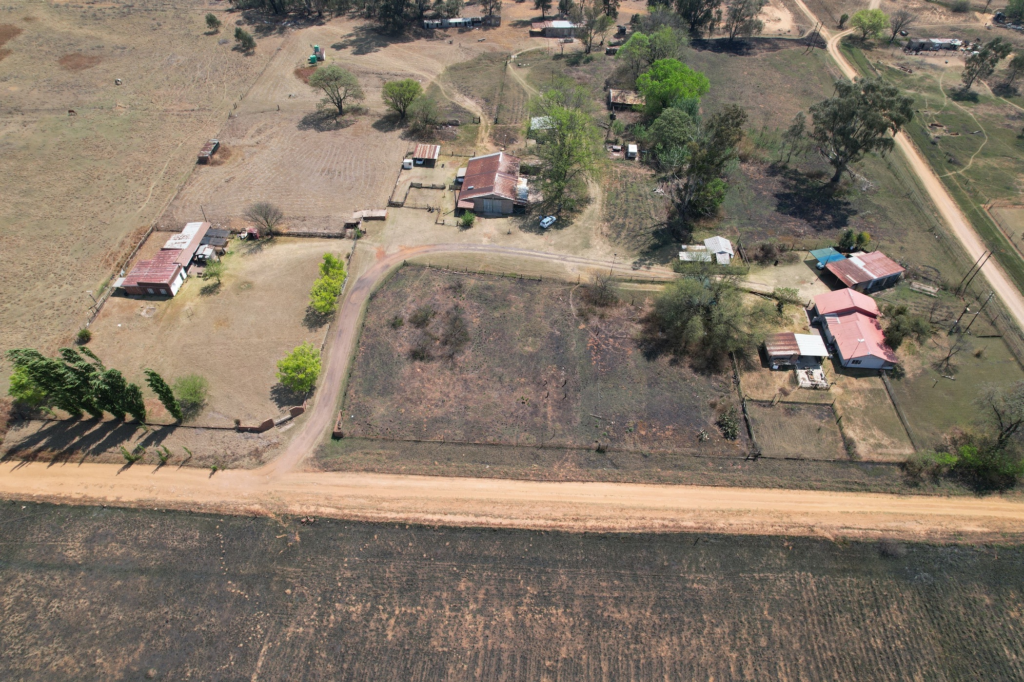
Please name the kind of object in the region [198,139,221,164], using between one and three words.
shed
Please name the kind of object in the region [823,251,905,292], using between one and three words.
building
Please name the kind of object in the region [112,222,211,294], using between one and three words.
house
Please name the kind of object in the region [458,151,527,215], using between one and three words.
barn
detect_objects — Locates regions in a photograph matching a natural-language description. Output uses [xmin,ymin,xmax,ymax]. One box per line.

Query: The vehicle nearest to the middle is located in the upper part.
[539,216,557,229]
